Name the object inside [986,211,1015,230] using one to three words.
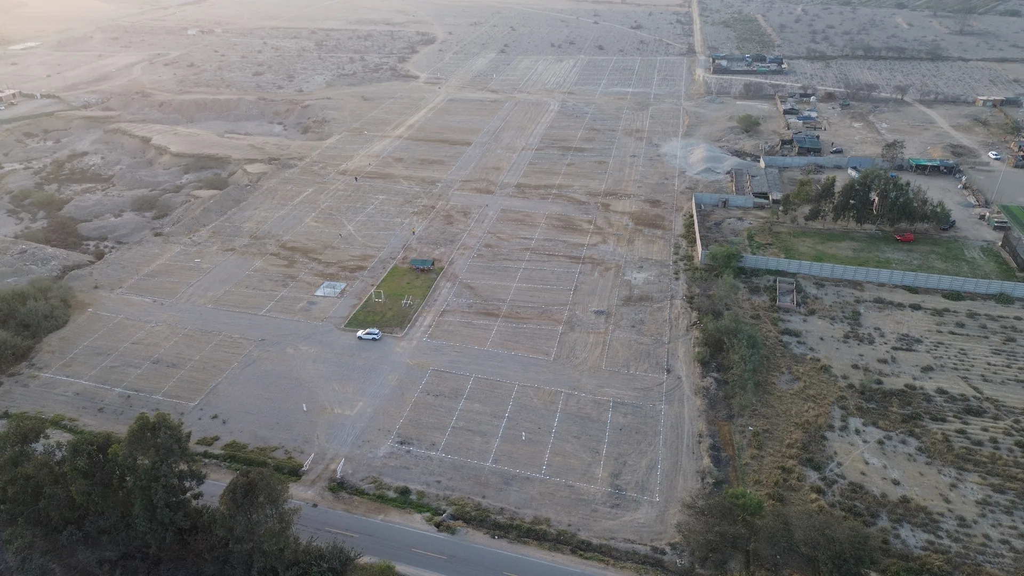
shed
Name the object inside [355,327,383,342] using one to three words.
car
